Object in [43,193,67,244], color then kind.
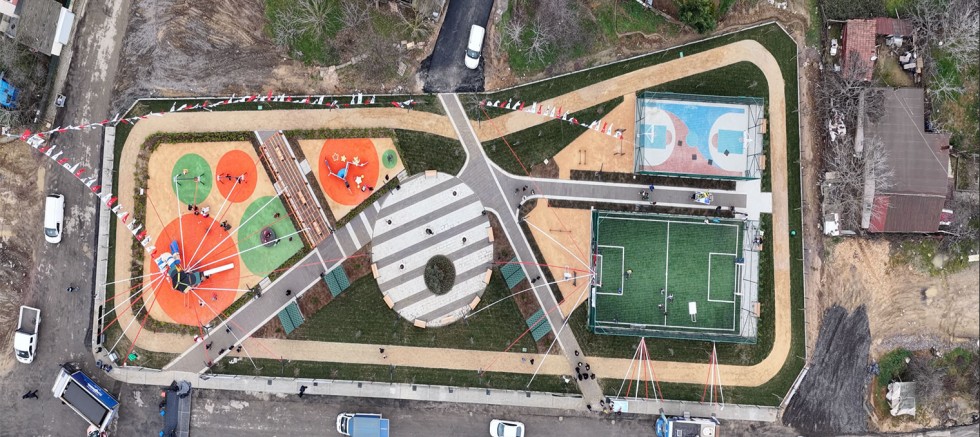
white vehicle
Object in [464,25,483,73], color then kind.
white vehicle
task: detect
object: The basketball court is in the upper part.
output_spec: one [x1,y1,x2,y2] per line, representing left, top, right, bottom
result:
[636,100,747,178]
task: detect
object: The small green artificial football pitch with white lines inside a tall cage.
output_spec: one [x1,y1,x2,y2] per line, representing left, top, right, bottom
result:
[591,210,744,336]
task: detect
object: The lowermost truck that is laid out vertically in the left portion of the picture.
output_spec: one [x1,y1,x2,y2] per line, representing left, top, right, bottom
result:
[12,306,44,363]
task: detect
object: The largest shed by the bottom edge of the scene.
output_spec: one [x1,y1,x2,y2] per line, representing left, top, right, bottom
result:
[883,381,915,416]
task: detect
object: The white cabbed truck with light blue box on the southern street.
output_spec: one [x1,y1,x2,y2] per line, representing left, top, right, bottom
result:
[335,412,387,437]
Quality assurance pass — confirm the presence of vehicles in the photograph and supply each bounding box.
[657,415,723,437]
[464,25,483,73]
[12,306,44,363]
[489,420,525,437]
[54,362,121,427]
[335,412,387,437]
[43,193,67,244]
